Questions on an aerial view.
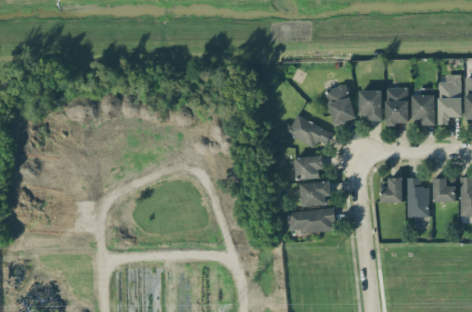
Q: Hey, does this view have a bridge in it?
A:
No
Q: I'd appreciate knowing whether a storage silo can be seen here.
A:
No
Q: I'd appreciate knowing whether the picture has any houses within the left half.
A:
No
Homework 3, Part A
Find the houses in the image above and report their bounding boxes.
[408,178,430,218]
[438,76,462,124]
[386,88,409,126]
[460,178,472,218]
[380,178,402,202]
[412,95,436,126]
[324,84,357,127]
[292,114,334,152]
[288,210,335,234]
[300,182,330,208]
[294,156,324,180]
[433,178,456,202]
[358,91,382,122]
